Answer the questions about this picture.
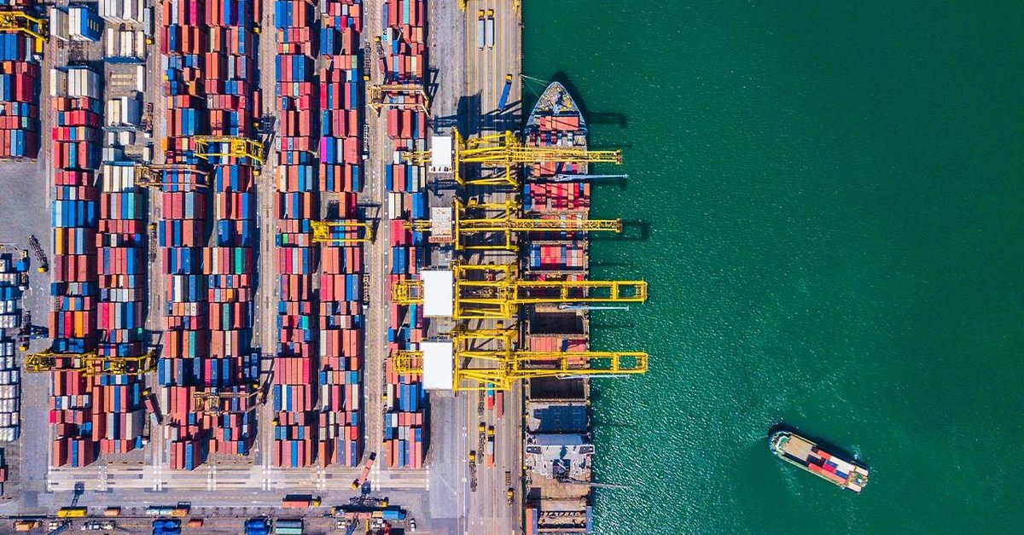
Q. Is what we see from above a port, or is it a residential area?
port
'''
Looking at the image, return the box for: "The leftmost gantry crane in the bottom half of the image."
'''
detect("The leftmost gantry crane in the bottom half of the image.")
[27,348,98,374]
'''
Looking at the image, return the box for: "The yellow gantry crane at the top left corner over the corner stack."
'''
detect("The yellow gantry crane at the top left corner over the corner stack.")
[0,10,55,50]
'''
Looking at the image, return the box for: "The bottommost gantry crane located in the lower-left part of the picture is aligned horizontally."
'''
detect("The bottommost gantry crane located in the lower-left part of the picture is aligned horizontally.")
[194,382,264,415]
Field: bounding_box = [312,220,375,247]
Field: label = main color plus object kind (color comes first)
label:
yellow container crane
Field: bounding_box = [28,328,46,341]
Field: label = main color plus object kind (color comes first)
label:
blue vehicle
